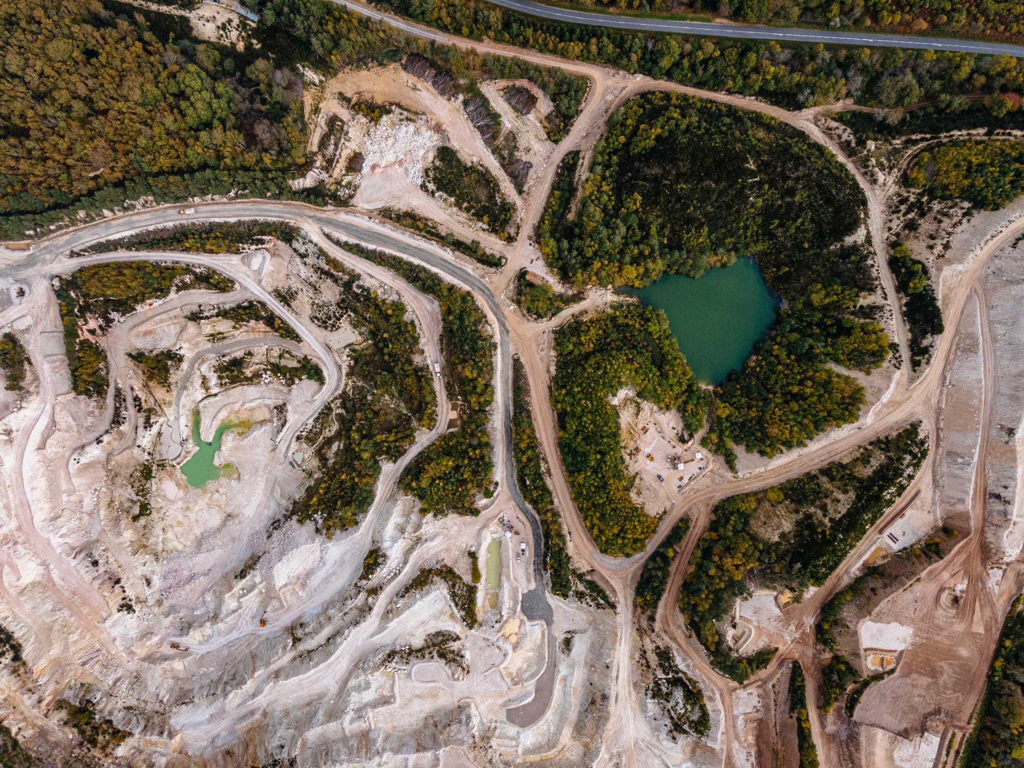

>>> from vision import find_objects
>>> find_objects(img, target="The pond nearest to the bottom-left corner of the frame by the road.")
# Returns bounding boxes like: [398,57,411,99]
[181,406,253,491]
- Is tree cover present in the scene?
Yes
